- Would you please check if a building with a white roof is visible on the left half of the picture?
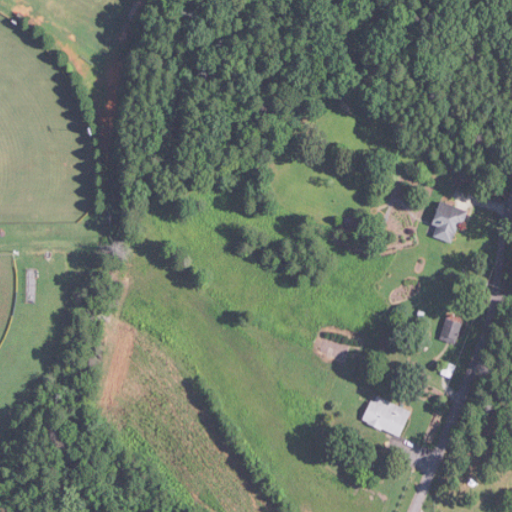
No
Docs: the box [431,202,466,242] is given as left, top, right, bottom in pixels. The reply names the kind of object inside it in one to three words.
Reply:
house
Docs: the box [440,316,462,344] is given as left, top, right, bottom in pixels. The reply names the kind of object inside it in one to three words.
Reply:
house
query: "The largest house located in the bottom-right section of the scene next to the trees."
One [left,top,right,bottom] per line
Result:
[362,400,411,438]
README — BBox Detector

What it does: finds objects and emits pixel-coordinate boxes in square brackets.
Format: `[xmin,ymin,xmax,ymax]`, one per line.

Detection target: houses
[362,400,411,438]
[431,202,466,242]
[440,316,462,344]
